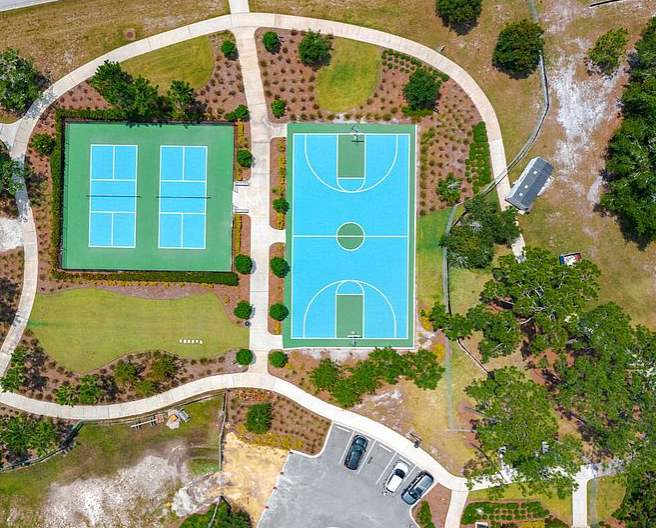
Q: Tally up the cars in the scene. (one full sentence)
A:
There are 3 cars in the image.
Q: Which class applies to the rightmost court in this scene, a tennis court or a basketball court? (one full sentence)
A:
It looks like the rightmost court is a basketball court.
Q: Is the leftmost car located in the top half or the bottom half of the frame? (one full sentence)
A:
The leftmost car sits in the bottom half of the picture.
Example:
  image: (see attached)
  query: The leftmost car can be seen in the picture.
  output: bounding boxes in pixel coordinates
[343,433,366,471]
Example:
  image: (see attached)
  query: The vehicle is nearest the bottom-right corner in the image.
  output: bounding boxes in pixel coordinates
[402,469,434,505]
